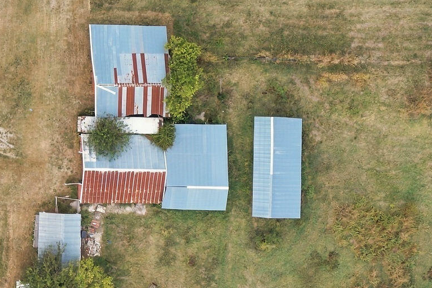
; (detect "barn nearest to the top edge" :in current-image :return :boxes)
[89,24,171,117]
